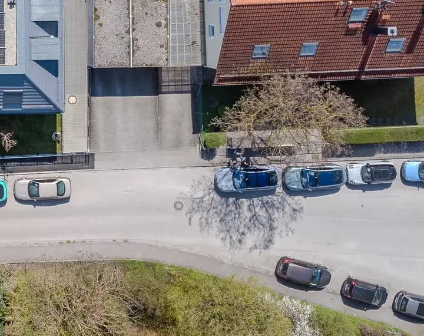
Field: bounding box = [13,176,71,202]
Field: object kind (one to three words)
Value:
car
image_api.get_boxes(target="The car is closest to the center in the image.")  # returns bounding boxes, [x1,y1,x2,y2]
[213,166,277,195]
